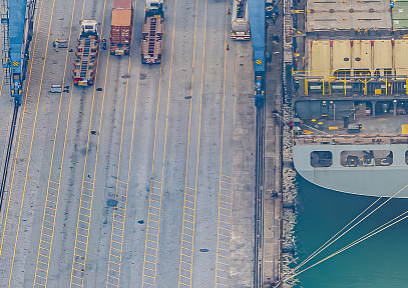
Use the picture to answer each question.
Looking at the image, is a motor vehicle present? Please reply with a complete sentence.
Yes, the image includes a motor vehicle.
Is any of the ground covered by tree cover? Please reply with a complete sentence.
No, no tree cover is visible.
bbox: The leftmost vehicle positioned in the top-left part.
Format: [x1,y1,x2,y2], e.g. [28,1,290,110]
[73,21,100,85]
